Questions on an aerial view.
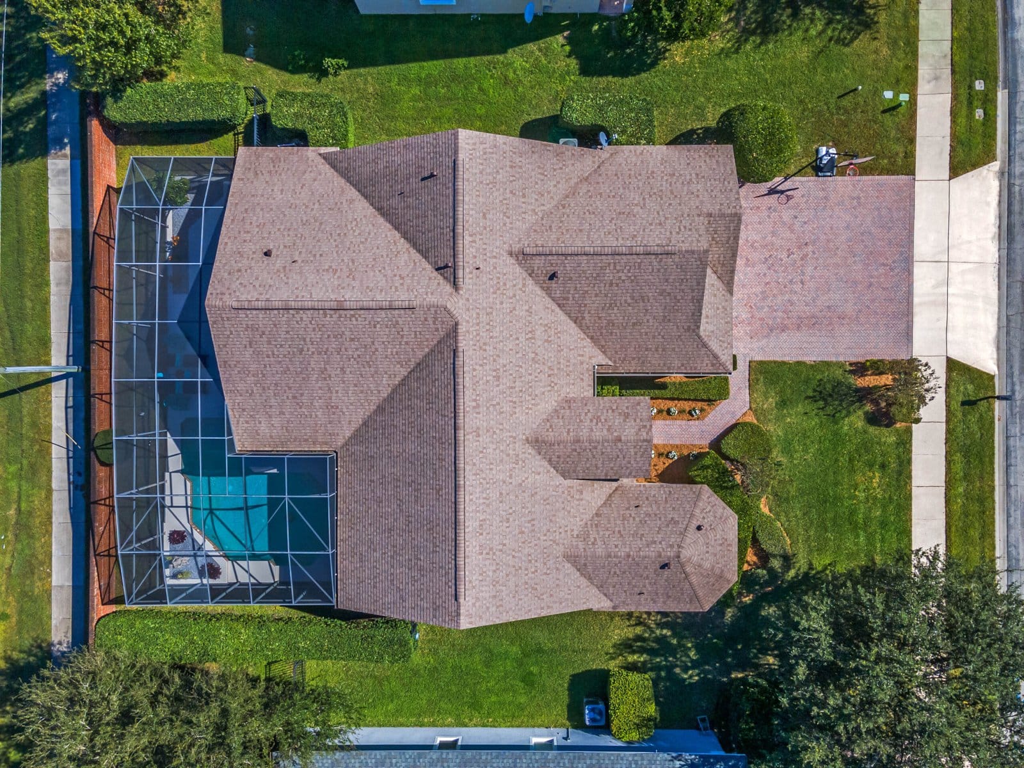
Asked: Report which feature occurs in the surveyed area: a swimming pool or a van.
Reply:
swimming pool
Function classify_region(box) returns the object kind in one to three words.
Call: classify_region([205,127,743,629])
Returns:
house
